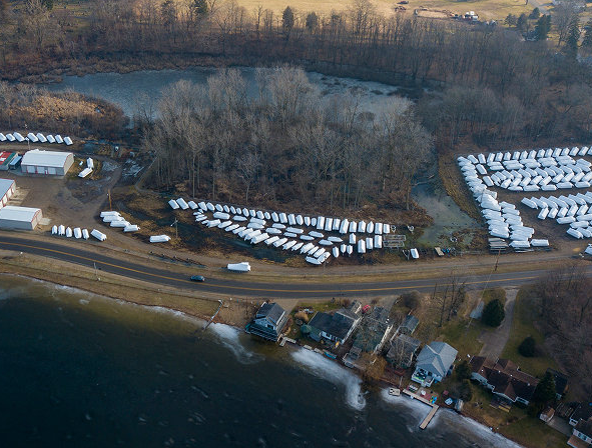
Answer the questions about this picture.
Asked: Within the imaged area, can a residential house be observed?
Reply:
Yes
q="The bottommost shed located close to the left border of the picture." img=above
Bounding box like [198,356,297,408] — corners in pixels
[0,204,41,230]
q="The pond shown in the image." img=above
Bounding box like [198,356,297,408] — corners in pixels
[0,67,426,142]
